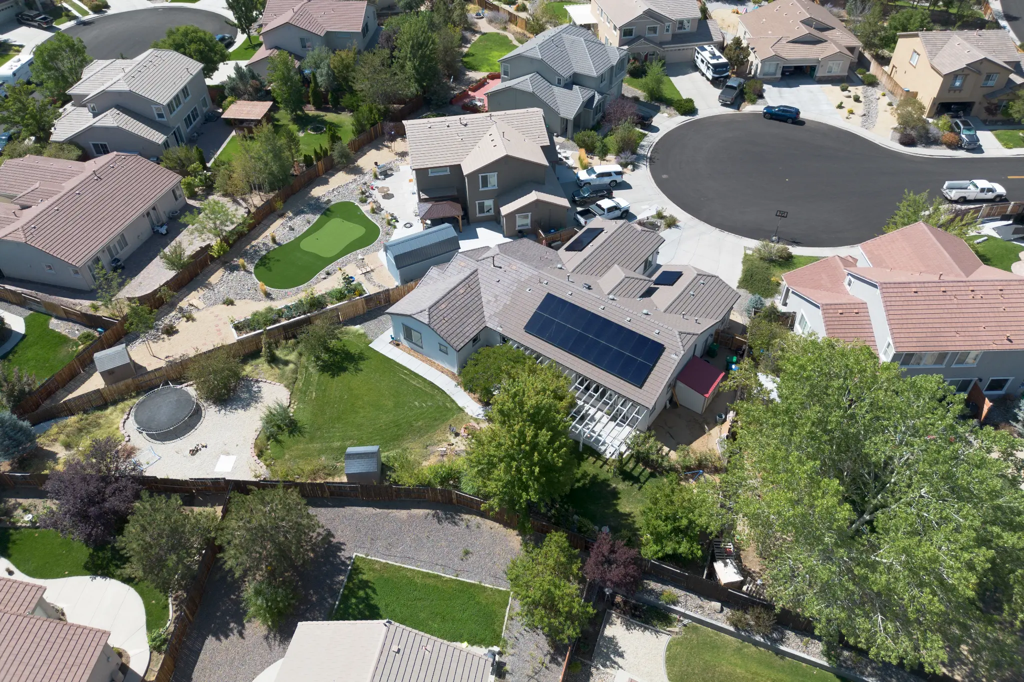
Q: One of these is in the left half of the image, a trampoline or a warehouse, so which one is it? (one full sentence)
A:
The one visible in the left half of the image is a trampoline.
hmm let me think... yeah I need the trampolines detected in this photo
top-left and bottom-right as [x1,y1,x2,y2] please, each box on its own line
[128,382,203,440]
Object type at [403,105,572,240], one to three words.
house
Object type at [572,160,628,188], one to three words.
car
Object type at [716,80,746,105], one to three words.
truck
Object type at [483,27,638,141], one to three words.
house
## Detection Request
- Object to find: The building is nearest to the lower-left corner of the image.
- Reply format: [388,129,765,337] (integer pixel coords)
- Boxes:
[0,571,122,682]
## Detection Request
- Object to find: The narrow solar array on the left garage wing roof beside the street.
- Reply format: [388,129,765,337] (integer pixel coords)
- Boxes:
[558,225,612,258]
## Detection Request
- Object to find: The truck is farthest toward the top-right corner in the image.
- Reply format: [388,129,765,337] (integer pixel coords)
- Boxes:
[953,120,985,152]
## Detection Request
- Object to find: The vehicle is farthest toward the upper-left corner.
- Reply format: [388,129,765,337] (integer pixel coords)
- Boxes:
[16,10,54,29]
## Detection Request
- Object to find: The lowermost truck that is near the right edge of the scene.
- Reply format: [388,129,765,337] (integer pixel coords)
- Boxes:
[938,177,1012,204]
